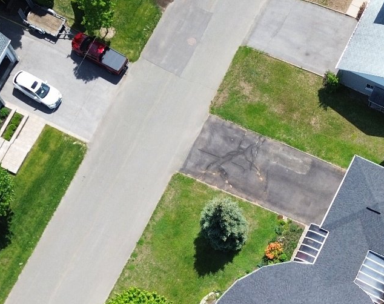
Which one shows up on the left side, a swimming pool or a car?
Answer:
car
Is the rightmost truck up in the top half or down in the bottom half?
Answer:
top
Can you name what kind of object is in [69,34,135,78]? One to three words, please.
truck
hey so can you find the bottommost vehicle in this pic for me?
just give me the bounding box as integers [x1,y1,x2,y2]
[10,69,64,110]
